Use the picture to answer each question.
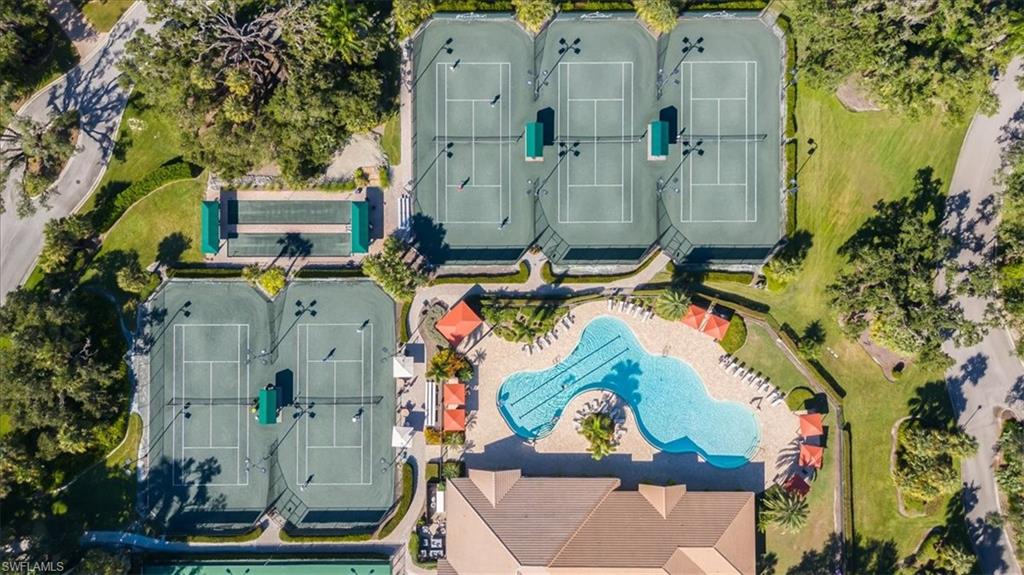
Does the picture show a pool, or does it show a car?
pool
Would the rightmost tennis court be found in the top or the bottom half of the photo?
top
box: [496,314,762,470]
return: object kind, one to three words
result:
swimming pool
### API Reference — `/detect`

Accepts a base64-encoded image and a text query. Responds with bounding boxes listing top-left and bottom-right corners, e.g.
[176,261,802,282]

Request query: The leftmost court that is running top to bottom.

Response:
[150,281,271,528]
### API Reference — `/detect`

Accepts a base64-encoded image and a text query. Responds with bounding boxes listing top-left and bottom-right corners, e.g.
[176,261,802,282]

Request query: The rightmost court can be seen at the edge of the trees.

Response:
[657,18,784,265]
